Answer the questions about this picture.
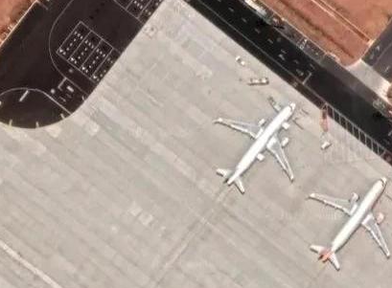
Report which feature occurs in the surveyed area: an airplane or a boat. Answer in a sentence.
The image shows an airplane.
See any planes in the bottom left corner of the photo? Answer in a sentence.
No, no plane can be made out in the bottom left corner of the photo.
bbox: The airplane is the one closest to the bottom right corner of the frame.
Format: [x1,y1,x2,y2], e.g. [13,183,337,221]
[306,179,390,269]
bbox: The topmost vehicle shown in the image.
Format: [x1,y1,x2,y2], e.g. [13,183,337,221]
[243,0,268,14]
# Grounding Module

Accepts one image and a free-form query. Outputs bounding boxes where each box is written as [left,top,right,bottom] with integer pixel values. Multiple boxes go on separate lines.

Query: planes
[213,104,295,192]
[306,179,390,269]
